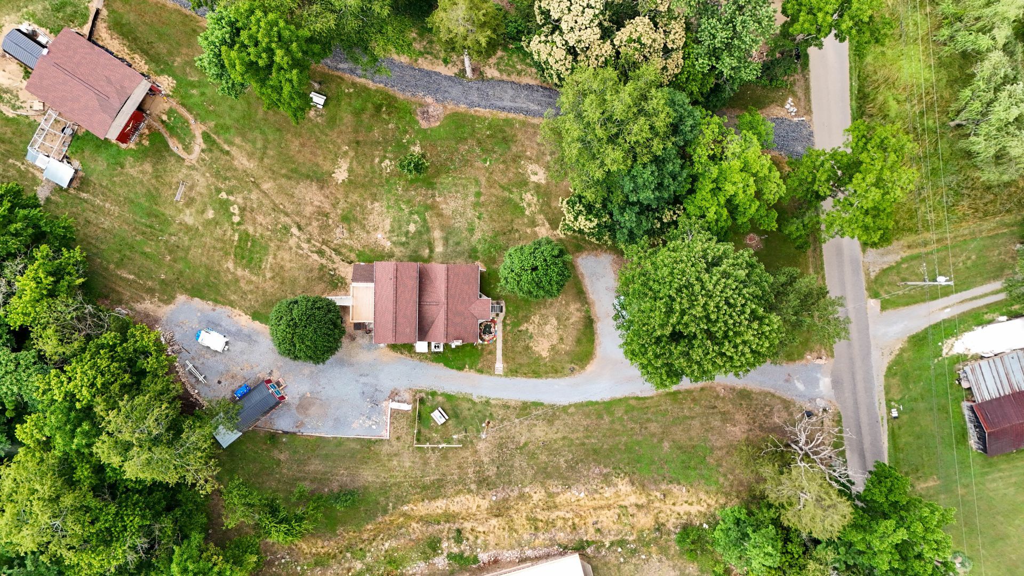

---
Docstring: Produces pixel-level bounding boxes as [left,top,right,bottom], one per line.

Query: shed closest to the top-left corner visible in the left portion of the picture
[2,29,44,69]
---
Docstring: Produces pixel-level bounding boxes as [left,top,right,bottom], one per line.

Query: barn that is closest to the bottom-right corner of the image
[951,348,1024,457]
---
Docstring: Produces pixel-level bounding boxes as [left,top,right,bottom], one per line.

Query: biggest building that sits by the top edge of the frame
[26,27,160,144]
